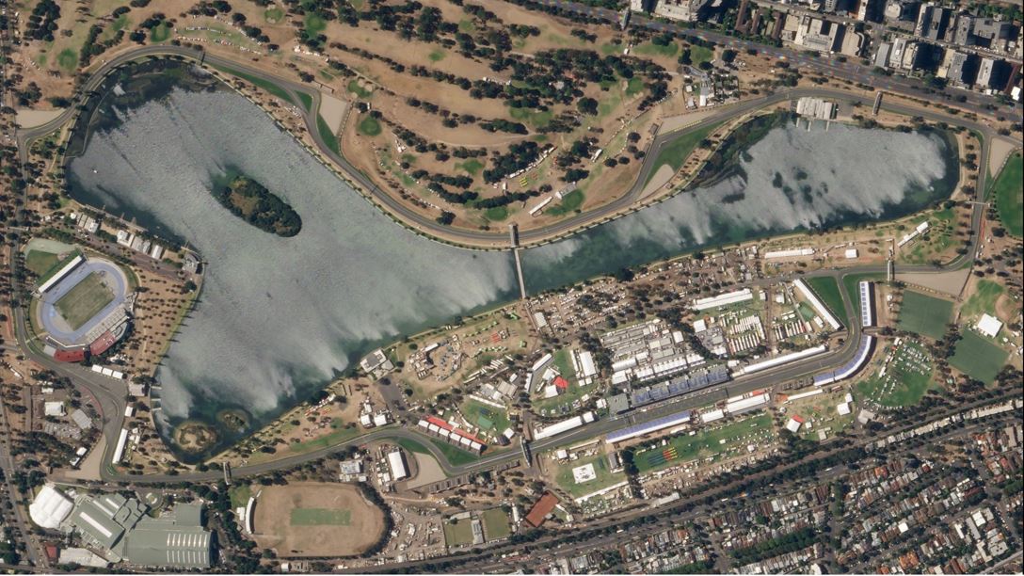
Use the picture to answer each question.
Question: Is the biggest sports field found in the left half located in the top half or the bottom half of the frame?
bottom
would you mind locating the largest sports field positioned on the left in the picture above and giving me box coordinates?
[250,482,384,558]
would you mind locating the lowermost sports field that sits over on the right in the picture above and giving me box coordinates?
[948,330,1009,387]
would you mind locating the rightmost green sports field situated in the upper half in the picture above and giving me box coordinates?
[995,152,1024,235]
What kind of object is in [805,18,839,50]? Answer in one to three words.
building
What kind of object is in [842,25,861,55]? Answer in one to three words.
building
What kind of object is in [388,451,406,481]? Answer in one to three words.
tent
